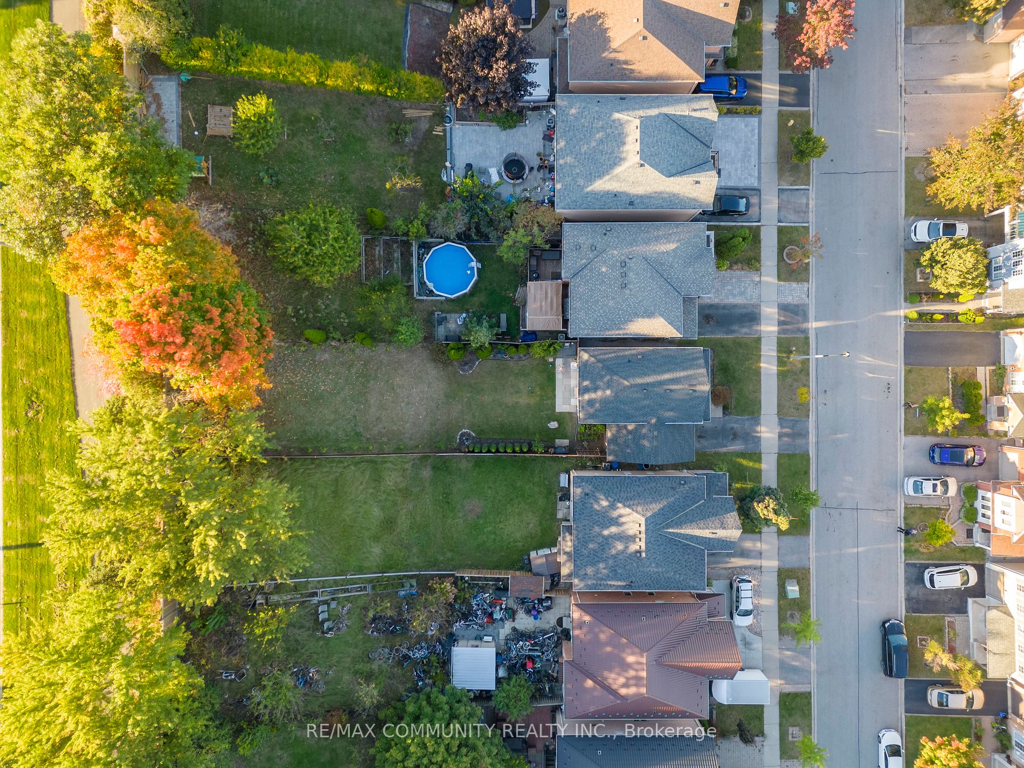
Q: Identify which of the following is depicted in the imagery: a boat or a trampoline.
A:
trampoline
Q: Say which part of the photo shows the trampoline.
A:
top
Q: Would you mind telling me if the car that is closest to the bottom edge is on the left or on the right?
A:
right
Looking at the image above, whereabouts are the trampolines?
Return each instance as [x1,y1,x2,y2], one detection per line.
[501,148,530,184]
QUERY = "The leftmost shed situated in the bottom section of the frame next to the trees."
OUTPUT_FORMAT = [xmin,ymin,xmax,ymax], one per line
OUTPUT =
[451,639,496,690]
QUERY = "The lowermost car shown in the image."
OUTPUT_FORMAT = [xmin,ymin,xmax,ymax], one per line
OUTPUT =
[873,725,902,768]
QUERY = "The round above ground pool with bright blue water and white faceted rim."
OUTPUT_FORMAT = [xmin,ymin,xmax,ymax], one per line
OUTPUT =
[423,243,487,297]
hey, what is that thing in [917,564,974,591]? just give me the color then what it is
white car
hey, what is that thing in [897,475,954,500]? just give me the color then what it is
white car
